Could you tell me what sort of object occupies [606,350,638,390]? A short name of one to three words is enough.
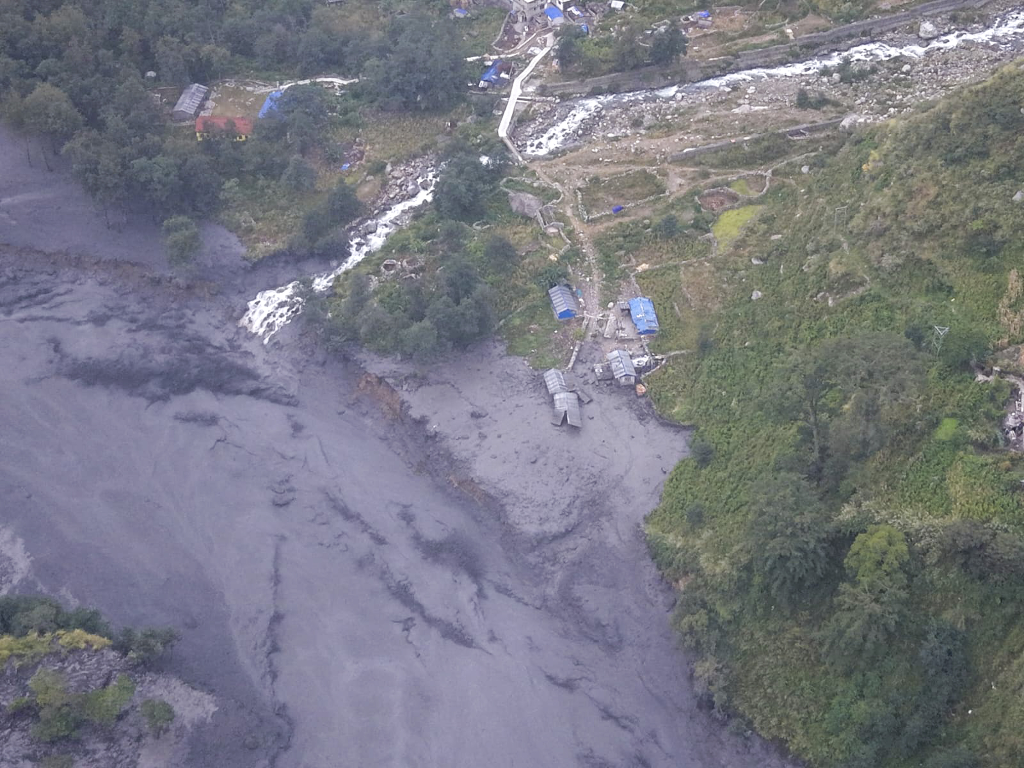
shed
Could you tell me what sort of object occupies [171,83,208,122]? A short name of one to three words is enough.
house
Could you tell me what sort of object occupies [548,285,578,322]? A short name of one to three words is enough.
shed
